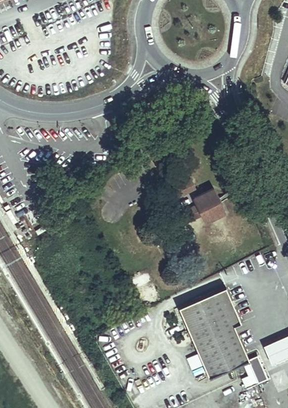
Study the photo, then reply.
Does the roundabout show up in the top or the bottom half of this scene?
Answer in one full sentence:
The roundabout sits in the top half of the picture.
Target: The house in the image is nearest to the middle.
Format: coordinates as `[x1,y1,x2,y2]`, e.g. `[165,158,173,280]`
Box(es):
[182,184,228,224]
